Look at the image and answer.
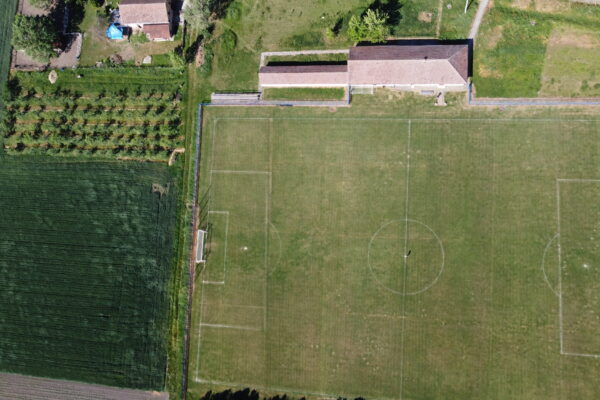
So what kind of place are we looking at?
sports ground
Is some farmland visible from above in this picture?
Yes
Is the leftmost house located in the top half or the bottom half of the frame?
top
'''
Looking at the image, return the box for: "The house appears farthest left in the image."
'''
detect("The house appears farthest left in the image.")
[115,0,175,42]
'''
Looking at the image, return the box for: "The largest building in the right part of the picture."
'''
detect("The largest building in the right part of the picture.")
[347,44,469,89]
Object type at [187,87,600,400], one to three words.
soccer field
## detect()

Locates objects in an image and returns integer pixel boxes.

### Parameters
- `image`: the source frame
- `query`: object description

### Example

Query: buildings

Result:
[115,0,175,42]
[347,44,469,89]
